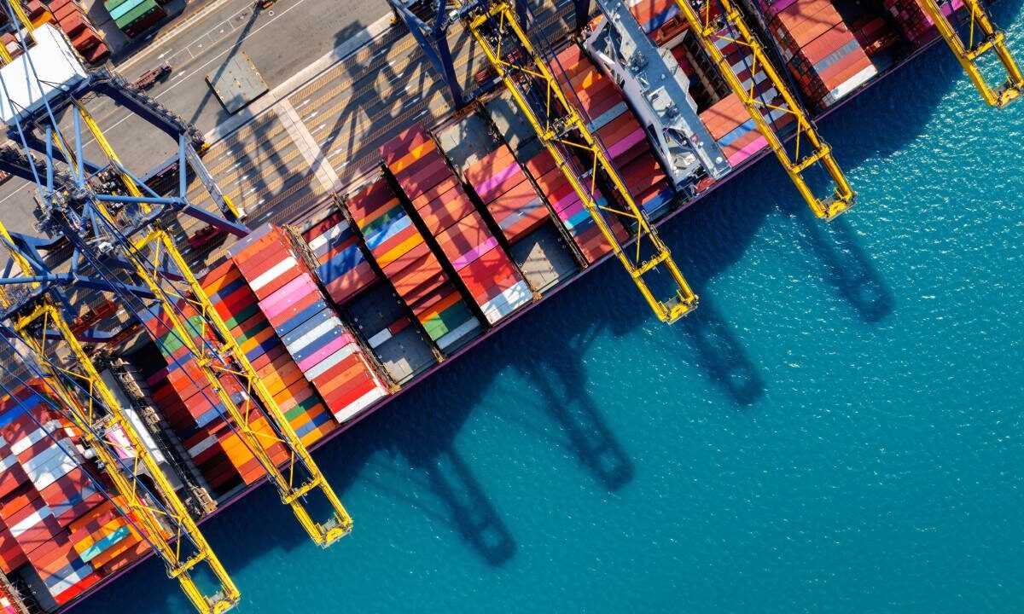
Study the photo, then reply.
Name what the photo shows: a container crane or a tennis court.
container crane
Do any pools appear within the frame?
No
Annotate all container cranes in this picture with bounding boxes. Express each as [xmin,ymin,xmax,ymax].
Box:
[0,0,350,549]
[675,0,857,218]
[385,0,702,319]
[0,149,240,614]
[923,0,1024,104]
